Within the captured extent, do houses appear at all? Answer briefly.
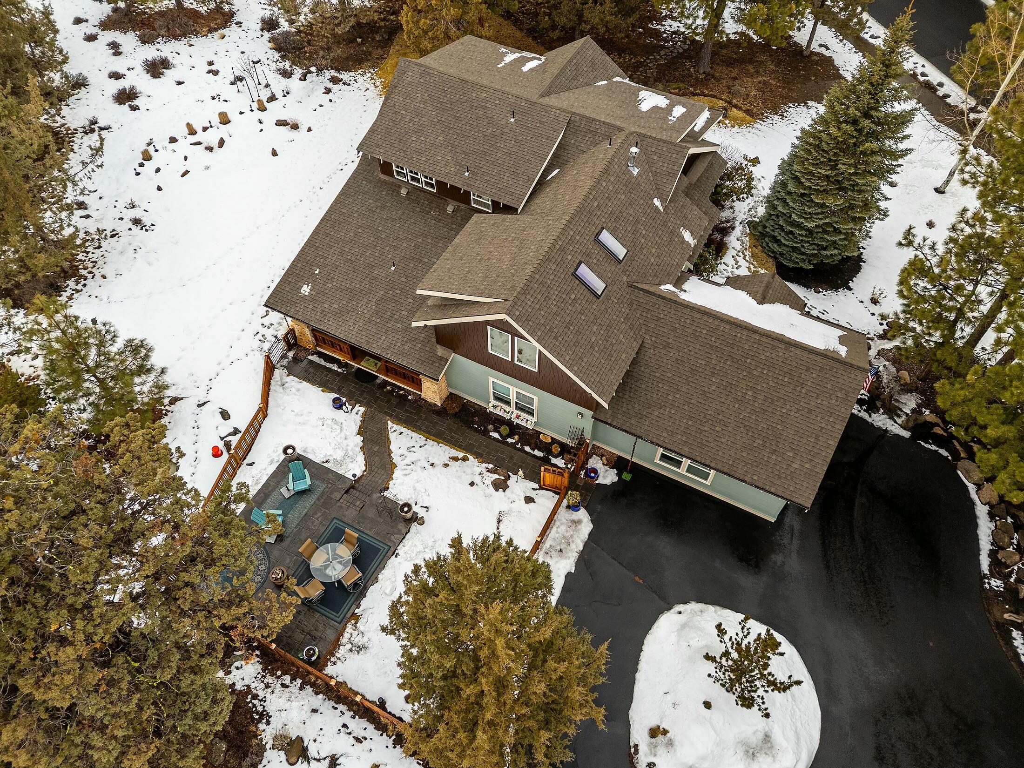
Yes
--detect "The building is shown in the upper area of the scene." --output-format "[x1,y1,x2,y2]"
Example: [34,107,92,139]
[263,34,869,522]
